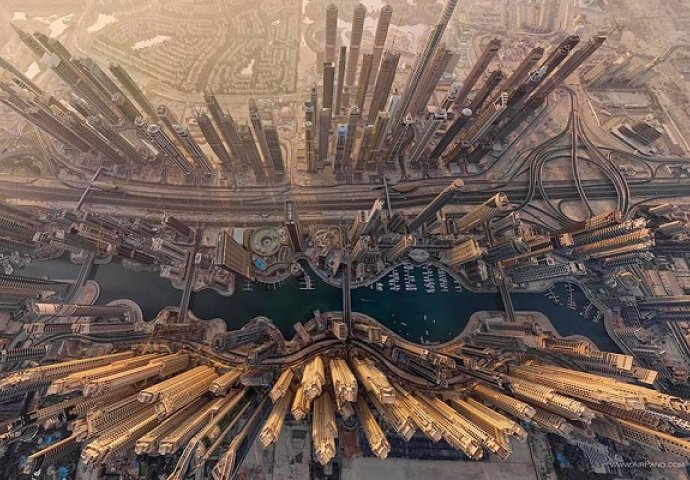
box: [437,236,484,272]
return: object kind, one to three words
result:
building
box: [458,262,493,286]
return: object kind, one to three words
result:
building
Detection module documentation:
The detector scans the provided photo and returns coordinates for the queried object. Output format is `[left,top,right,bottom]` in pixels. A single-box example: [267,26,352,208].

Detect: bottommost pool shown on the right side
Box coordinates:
[555,448,570,467]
